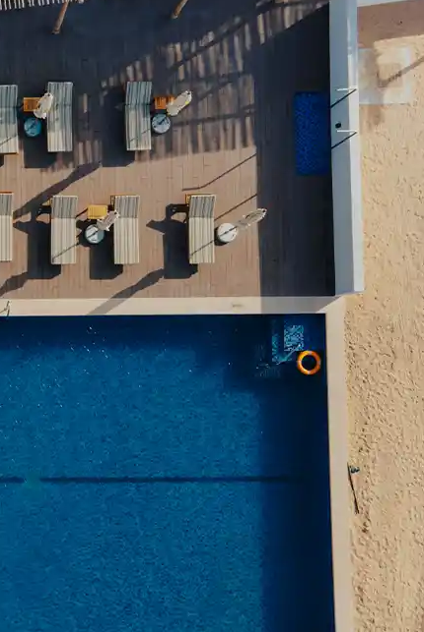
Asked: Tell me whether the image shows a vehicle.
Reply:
No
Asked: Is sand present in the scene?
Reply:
Yes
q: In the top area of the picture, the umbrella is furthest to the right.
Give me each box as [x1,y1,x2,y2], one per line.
[217,215,266,242]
